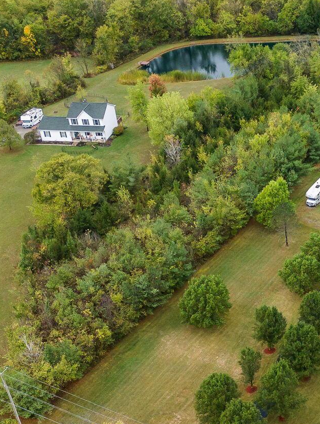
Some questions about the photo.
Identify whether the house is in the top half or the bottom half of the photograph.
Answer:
top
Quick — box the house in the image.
[38,102,125,143]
